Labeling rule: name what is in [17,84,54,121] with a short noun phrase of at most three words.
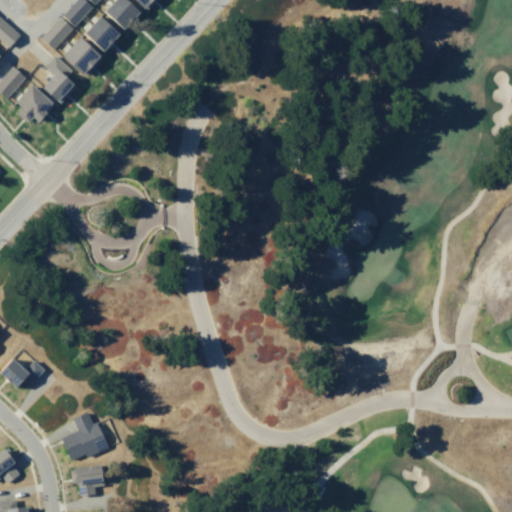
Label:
house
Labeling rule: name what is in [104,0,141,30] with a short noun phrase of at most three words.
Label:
house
